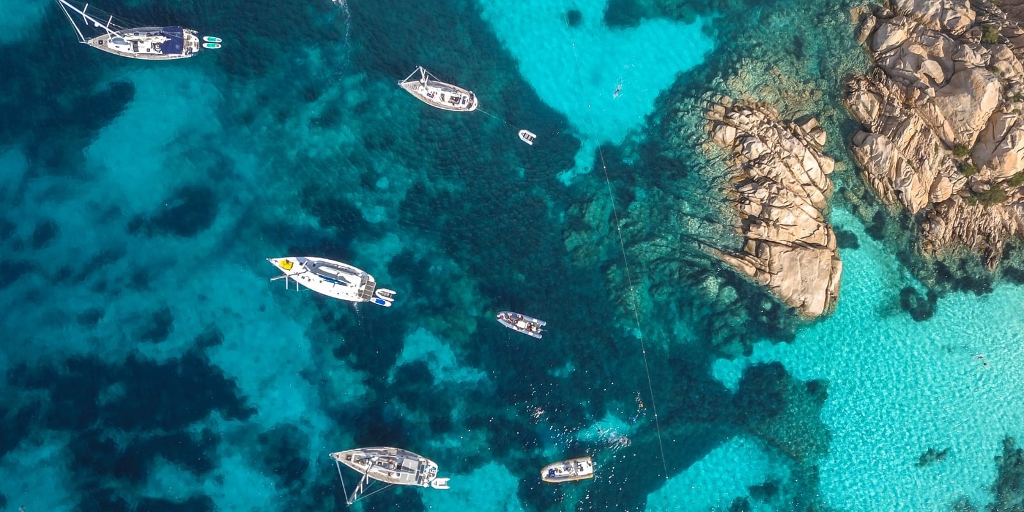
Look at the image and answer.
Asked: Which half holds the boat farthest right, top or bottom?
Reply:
bottom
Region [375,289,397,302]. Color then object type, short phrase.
white boat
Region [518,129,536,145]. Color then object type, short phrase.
white boat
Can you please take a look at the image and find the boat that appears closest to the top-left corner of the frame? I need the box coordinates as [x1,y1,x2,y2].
[54,0,204,60]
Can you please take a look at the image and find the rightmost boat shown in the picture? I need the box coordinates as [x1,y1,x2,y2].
[540,456,596,483]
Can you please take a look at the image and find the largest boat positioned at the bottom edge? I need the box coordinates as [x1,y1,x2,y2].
[329,446,439,509]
